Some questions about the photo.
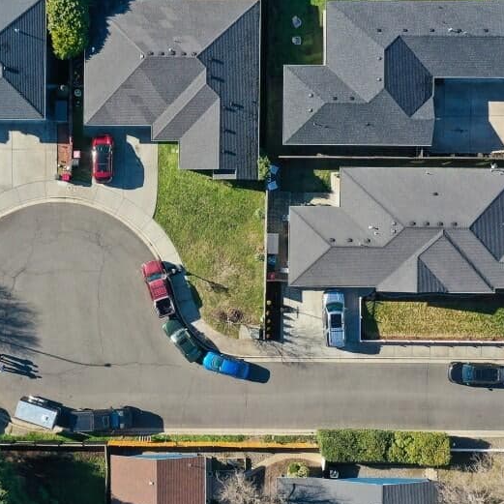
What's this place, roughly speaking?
residential area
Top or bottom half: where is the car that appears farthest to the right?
bottom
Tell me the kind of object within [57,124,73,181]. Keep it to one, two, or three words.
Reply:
trailer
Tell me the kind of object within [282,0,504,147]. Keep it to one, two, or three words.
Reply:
house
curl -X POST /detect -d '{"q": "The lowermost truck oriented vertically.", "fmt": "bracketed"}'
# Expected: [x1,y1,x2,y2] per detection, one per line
[323,291,347,347]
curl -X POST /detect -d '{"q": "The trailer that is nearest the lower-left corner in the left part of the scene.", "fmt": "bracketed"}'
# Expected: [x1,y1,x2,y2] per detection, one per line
[13,394,69,428]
